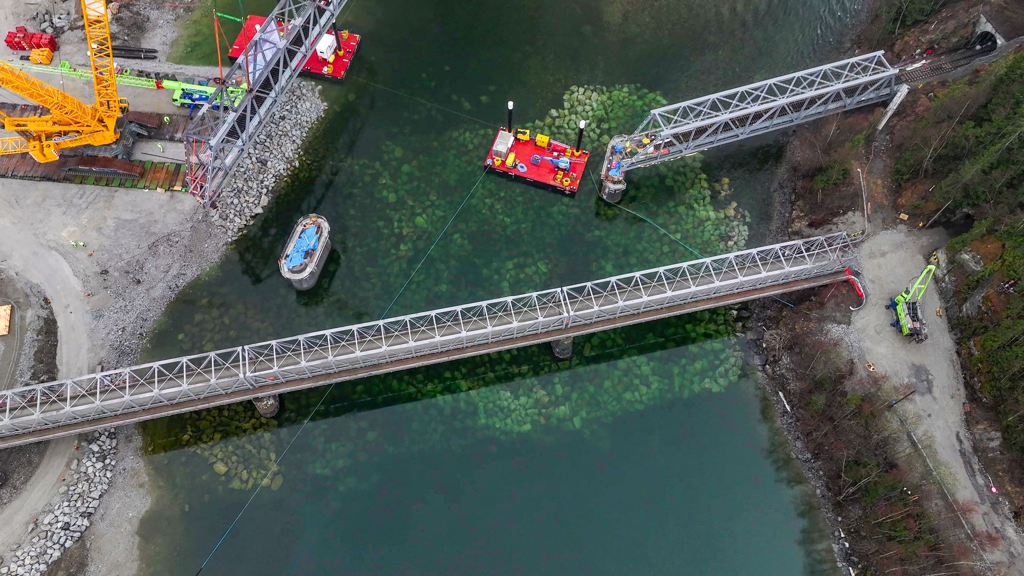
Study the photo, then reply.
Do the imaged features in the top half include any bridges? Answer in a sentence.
Yes, a bridge is visible in the top half.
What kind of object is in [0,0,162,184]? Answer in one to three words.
crane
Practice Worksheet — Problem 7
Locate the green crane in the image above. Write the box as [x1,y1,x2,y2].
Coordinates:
[0,60,244,121]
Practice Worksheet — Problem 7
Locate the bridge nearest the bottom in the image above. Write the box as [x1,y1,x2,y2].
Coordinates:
[0,232,857,446]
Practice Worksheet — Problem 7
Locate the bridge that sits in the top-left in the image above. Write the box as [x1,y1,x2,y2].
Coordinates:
[169,0,346,214]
